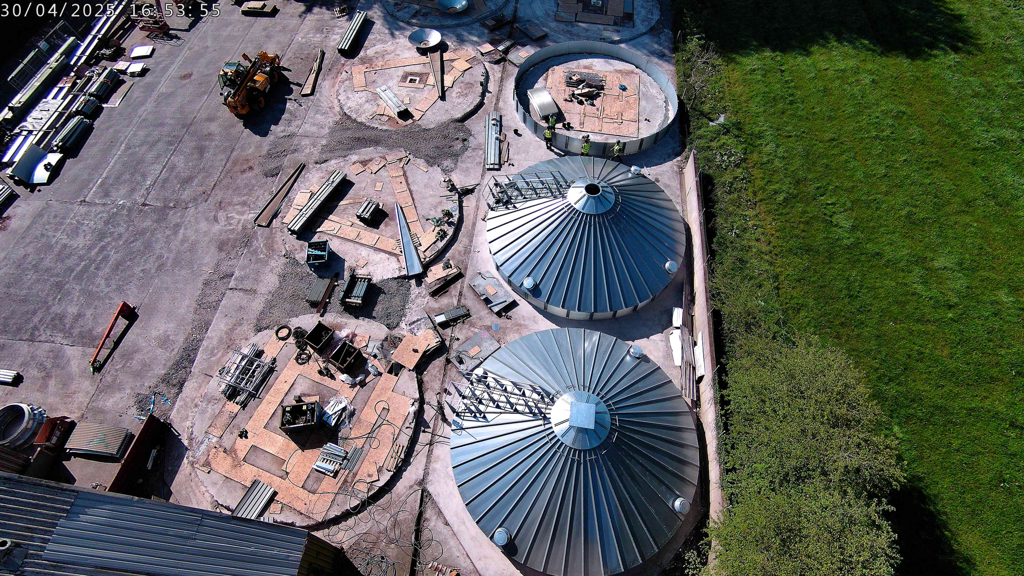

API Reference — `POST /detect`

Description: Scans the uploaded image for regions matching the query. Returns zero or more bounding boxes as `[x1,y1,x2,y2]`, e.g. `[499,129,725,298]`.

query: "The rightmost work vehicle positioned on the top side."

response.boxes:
[200,35,287,119]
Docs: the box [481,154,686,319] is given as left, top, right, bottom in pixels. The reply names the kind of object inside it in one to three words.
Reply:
storage tank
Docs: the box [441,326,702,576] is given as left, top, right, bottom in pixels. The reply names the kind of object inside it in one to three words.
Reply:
storage tank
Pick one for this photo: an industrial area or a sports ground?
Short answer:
industrial area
